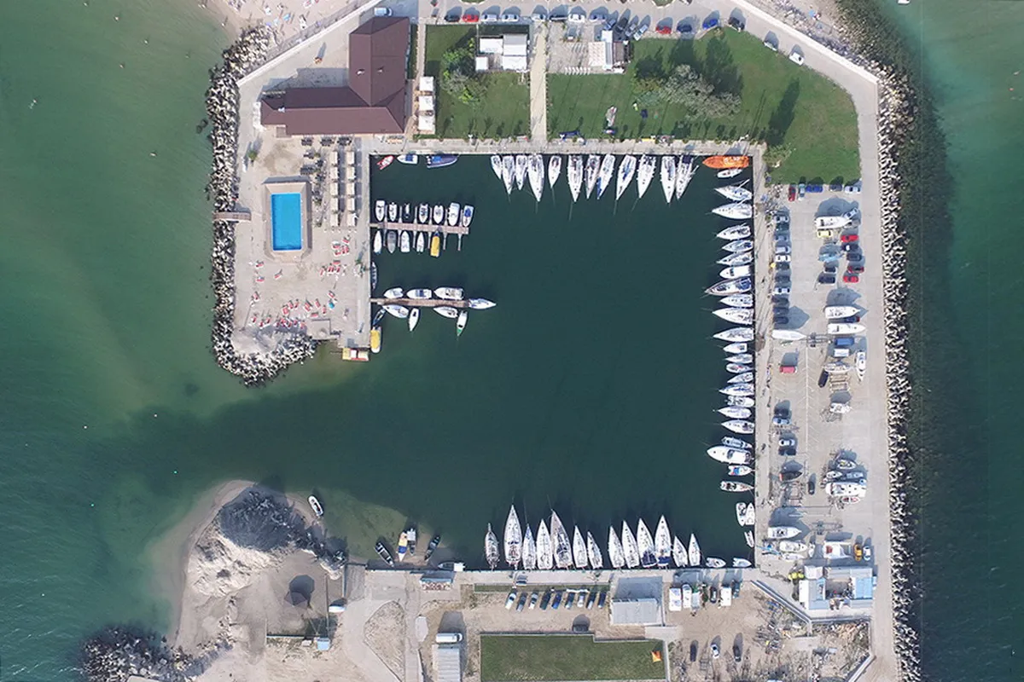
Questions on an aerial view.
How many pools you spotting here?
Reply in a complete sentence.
The photo contains exactly 1 pool.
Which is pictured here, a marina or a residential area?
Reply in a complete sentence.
It's a marina.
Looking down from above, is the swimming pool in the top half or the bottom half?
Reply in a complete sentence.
Seen from above, the swimming pool lies in the top half of the view.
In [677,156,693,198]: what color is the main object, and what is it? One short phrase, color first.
white boat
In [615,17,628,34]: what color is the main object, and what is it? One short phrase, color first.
black vehicle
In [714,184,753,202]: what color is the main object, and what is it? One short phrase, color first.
white boat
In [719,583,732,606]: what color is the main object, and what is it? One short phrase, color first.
white vehicle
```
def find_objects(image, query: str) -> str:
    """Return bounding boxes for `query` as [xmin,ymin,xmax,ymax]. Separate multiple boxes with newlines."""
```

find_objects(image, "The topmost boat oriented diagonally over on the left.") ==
[378,156,393,170]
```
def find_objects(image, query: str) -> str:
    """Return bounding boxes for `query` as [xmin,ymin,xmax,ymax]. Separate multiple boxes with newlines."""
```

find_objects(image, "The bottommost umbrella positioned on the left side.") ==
[283,591,304,613]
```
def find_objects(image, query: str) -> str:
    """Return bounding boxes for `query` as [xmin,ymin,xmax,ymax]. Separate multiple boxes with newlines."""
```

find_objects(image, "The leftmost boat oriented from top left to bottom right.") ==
[307,495,325,517]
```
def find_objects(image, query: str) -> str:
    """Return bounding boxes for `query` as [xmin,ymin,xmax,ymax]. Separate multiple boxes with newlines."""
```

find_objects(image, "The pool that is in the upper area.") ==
[263,182,317,263]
